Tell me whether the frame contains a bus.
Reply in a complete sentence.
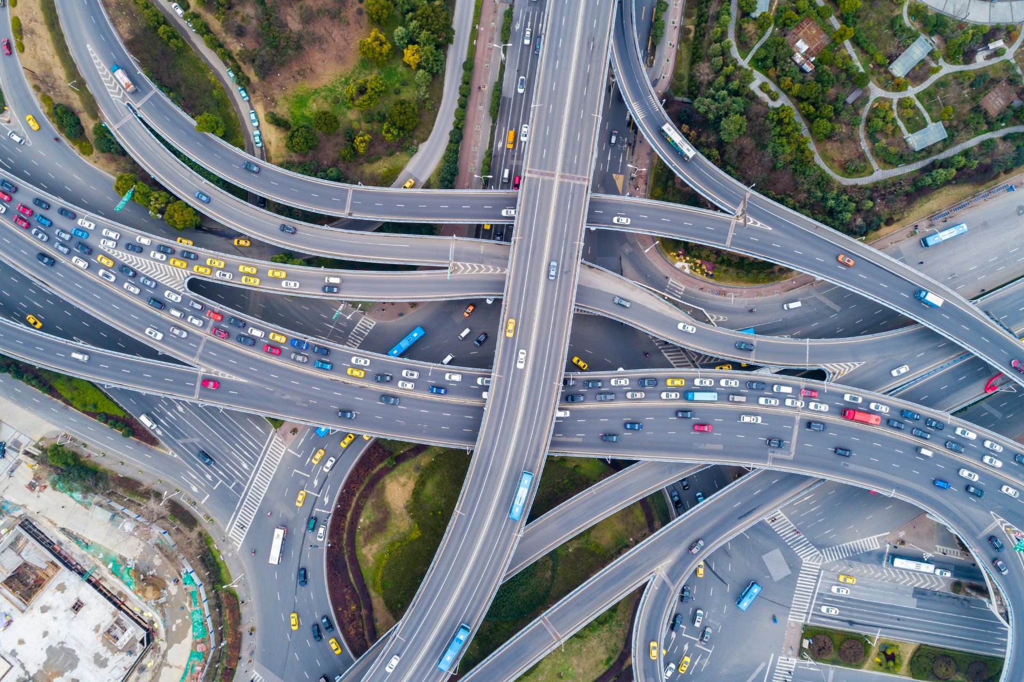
Yes, I can see a bus in this picture.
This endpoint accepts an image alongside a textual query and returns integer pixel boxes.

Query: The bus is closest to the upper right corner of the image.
[922,222,974,246]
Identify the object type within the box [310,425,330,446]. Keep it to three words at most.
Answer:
bus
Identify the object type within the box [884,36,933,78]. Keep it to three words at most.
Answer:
building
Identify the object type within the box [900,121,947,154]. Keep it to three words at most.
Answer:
building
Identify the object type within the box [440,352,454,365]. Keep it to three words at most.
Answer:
vehicle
